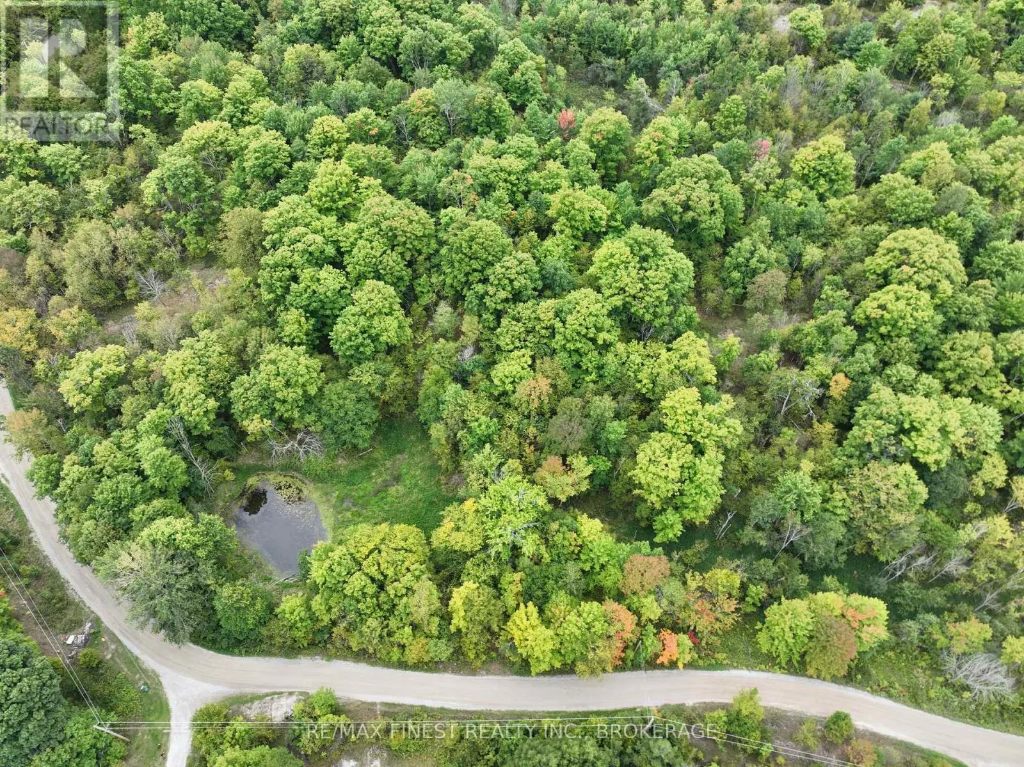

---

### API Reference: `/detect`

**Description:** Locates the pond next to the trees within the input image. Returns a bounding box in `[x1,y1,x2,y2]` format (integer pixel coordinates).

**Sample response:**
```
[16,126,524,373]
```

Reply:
[232,472,330,584]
